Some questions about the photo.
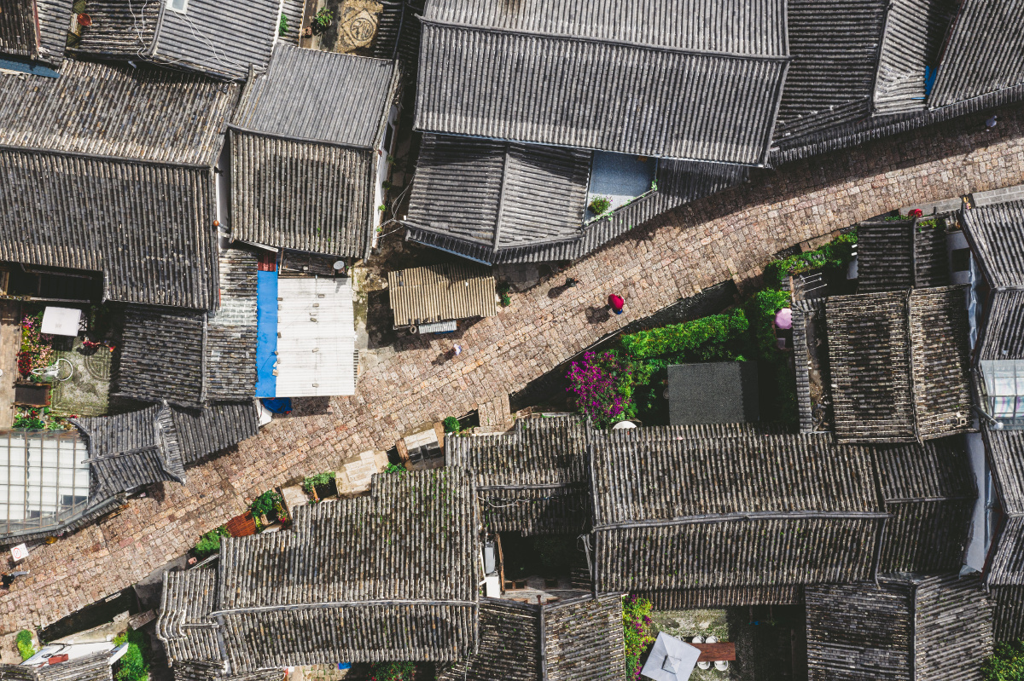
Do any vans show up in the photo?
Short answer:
No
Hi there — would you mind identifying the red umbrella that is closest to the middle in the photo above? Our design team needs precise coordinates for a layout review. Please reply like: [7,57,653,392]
[606,293,621,311]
